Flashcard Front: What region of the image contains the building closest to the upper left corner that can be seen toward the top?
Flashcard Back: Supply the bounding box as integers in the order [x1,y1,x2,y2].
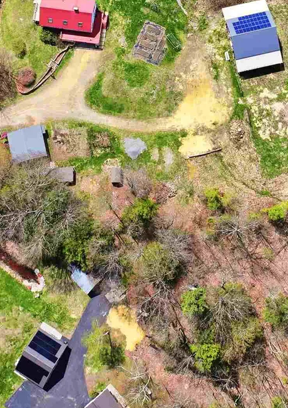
[33,0,112,54]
